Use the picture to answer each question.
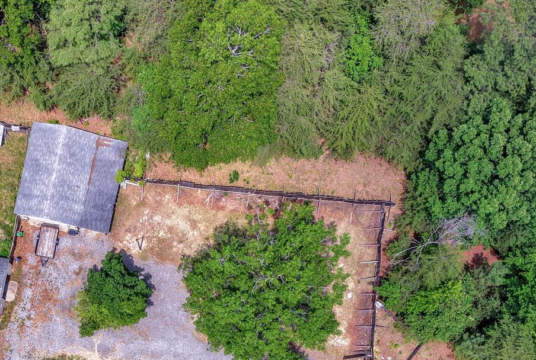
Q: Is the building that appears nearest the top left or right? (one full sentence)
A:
It is on the left.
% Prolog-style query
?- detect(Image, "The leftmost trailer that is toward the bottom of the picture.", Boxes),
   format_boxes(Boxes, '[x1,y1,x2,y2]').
[34,221,60,268]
